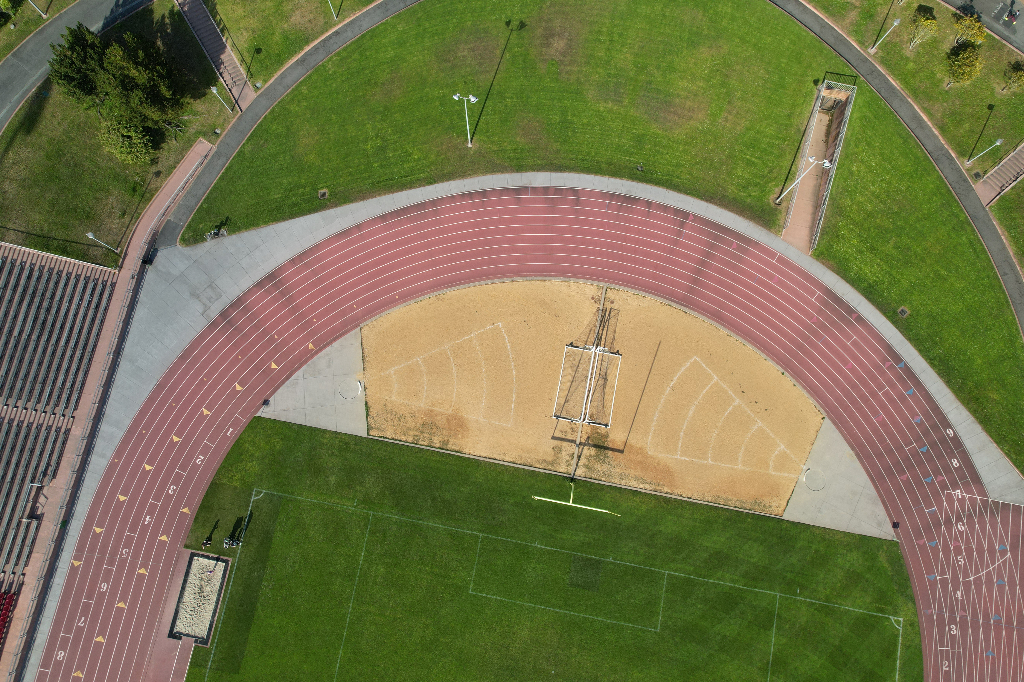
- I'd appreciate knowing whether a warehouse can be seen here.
No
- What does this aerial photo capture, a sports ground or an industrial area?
sports ground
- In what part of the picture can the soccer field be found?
bottom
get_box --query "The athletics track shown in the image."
[32,183,1024,682]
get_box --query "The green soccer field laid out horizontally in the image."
[184,414,923,682]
